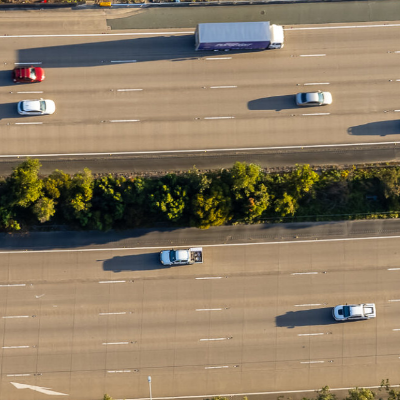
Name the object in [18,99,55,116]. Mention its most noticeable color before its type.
white car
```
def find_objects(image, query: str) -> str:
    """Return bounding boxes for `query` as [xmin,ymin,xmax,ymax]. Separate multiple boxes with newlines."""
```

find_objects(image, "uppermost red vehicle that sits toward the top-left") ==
[12,66,45,83]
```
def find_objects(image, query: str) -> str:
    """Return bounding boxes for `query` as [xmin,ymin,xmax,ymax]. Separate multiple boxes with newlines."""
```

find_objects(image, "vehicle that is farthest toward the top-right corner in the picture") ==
[296,90,332,108]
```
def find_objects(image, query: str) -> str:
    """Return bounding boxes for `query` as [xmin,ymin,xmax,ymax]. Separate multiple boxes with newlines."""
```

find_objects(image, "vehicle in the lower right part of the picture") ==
[332,304,377,321]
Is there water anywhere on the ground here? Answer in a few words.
No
